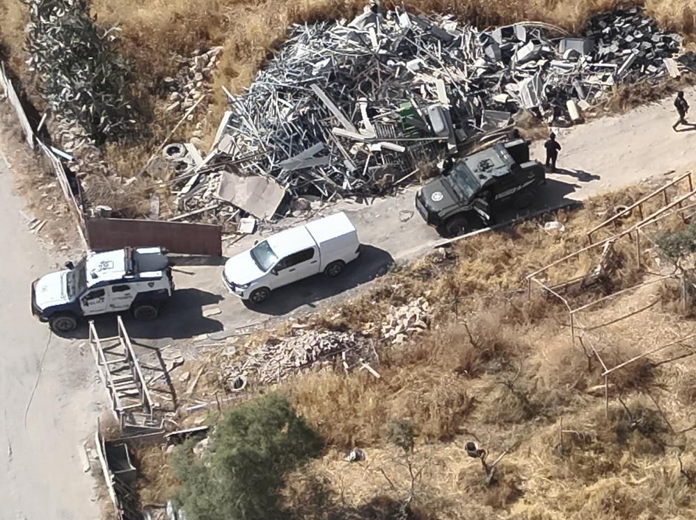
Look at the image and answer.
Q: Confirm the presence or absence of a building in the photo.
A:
No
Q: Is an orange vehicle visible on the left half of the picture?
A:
No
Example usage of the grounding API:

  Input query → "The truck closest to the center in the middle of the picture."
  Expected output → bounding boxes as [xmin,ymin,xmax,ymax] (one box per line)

[213,203,364,306]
